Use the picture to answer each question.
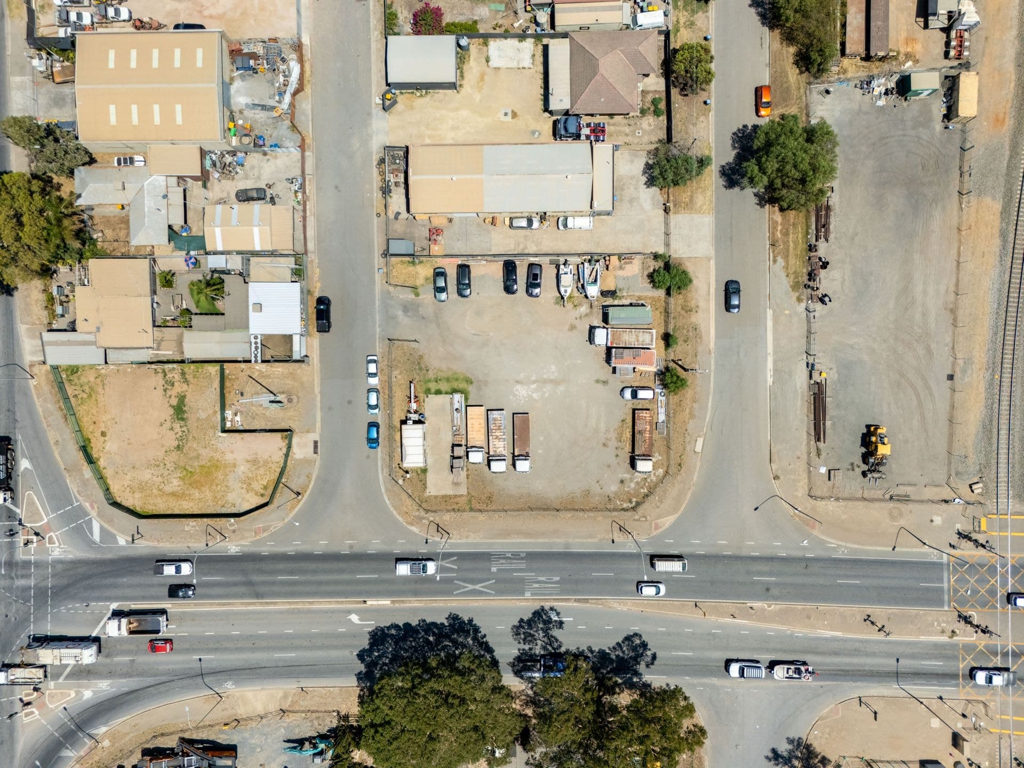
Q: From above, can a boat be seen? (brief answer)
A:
Yes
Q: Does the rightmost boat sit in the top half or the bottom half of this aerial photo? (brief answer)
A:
bottom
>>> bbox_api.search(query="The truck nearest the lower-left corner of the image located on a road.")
[0,665,49,687]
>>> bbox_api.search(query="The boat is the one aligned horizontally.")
[766,661,818,681]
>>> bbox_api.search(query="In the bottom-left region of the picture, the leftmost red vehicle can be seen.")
[149,638,175,654]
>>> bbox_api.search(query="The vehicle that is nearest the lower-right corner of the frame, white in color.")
[969,667,1012,686]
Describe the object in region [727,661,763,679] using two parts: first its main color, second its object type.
white car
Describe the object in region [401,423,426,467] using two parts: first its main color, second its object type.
white trailer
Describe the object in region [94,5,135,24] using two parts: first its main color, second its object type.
white vehicle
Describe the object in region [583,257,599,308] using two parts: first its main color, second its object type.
white boat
